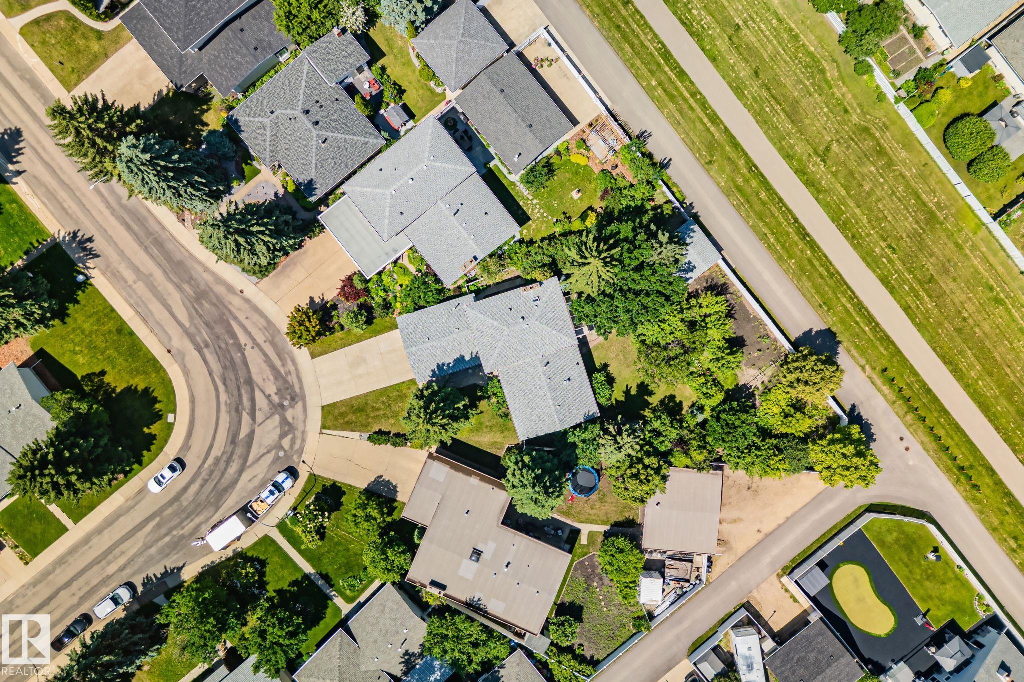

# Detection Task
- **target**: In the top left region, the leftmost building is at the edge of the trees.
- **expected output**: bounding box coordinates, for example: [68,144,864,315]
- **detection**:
[118,0,291,101]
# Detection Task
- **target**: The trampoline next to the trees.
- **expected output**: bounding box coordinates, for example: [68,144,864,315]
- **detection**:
[570,466,602,501]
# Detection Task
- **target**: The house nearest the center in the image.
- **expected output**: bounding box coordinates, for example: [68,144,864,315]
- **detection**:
[399,276,601,441]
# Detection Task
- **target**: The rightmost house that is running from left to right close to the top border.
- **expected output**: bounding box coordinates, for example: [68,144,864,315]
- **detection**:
[903,0,1021,54]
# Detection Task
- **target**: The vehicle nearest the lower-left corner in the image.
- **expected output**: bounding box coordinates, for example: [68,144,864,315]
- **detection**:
[46,617,87,653]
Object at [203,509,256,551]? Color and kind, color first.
white trailer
